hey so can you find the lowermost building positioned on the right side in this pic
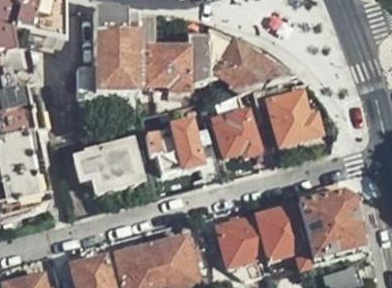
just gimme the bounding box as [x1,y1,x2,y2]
[324,268,362,288]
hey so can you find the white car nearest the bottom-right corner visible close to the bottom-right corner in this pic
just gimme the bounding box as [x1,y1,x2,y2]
[378,225,390,249]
